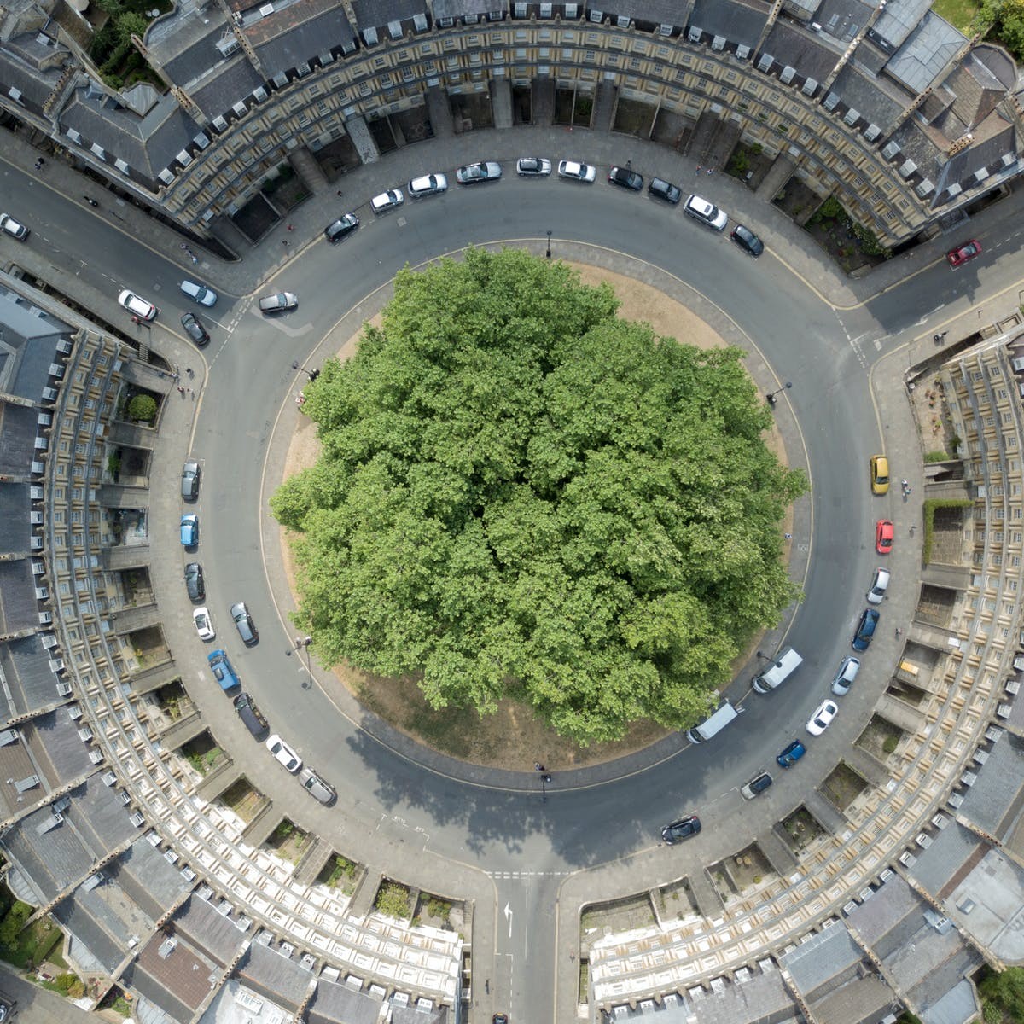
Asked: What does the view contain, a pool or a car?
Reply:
car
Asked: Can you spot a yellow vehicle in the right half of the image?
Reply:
Yes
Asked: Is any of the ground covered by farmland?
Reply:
No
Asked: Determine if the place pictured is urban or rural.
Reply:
urban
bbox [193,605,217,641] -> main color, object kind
white car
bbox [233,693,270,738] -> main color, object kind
gray van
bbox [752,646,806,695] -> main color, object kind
white van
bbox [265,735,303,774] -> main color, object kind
white car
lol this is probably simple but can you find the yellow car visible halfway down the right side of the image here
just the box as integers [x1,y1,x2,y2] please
[868,456,891,493]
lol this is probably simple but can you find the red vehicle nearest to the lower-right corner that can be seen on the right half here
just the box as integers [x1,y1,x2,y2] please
[874,519,895,554]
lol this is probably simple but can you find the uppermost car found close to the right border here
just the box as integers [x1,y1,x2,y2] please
[944,240,982,268]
